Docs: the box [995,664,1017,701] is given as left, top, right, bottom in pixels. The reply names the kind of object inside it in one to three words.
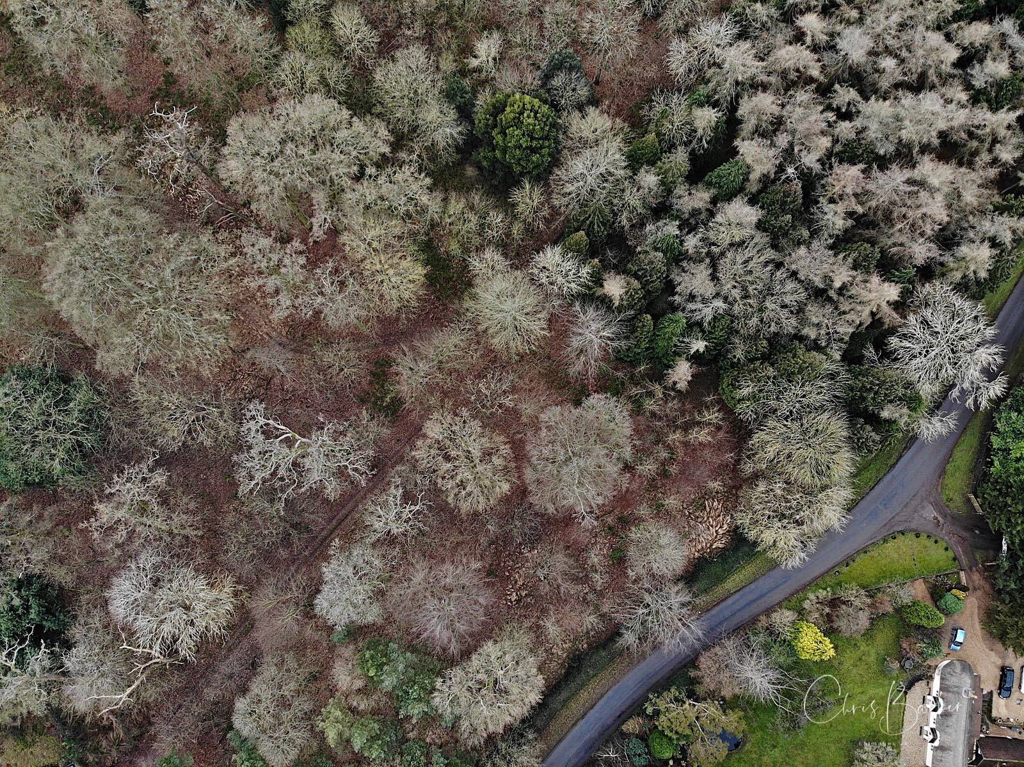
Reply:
car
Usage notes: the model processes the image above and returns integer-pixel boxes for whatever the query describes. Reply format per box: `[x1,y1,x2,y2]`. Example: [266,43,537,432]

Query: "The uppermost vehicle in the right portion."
[947,626,967,653]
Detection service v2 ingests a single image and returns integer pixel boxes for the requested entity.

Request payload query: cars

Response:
[1019,661,1024,693]
[995,664,1017,701]
[947,626,967,653]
